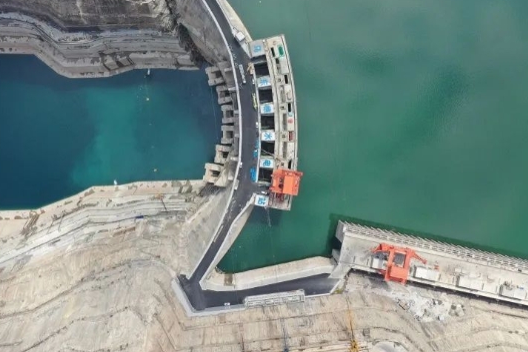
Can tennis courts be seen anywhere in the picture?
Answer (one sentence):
No, there isn't any tennis court down there.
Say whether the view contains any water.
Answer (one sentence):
Yes, the picture does contain water.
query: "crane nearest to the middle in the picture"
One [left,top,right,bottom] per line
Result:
[269,165,305,195]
